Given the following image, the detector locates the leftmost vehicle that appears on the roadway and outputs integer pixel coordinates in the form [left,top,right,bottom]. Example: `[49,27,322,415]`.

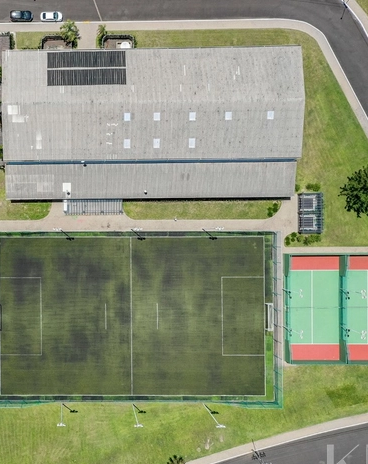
[9,8,32,20]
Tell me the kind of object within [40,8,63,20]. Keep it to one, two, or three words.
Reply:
vehicle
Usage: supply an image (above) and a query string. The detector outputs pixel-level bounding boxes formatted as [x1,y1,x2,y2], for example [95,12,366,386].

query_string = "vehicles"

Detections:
[9,8,32,20]
[40,8,63,20]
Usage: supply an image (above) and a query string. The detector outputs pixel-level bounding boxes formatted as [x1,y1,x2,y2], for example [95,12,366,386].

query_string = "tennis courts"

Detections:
[284,254,348,363]
[340,254,368,363]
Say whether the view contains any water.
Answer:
No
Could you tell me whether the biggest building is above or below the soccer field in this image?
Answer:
above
